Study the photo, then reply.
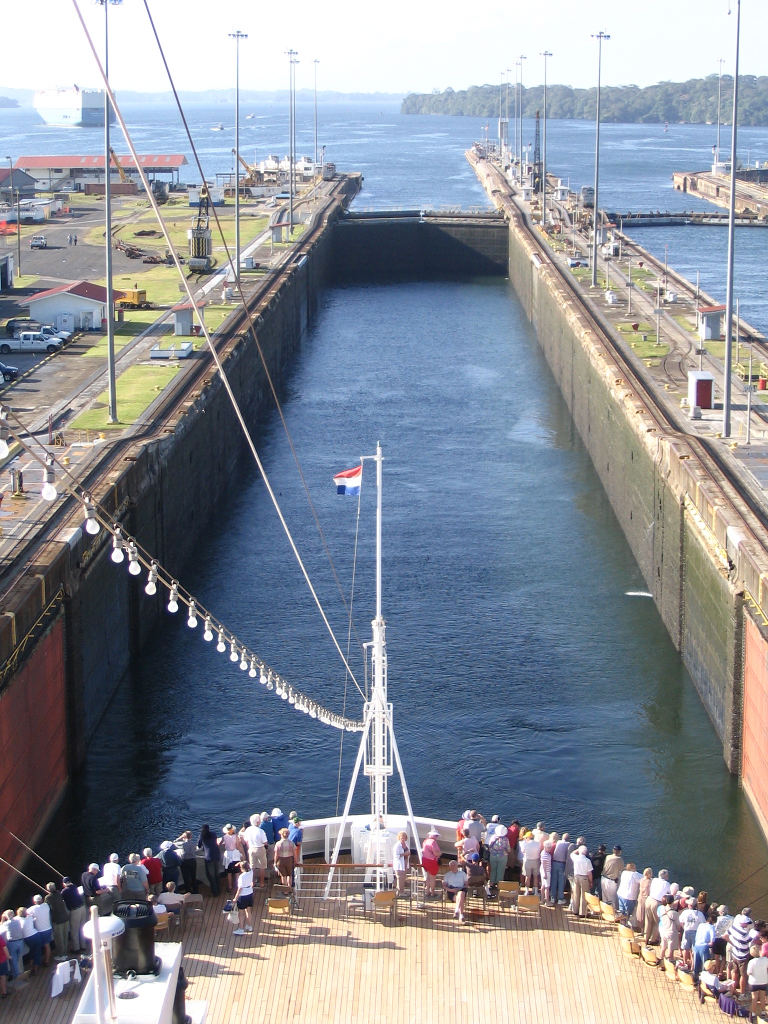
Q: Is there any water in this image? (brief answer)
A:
Yes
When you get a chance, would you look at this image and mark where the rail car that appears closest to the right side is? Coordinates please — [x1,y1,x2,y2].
[581,186,594,207]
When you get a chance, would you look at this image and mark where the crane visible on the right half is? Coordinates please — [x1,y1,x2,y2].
[529,113,543,193]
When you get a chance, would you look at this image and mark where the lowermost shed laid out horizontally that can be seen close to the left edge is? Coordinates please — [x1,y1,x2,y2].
[18,284,126,332]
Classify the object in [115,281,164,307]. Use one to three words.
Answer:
trailer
